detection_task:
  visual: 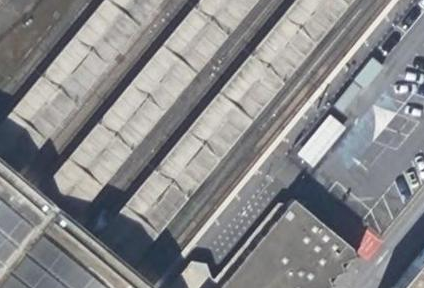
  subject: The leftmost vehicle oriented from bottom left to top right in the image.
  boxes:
[382,32,402,52]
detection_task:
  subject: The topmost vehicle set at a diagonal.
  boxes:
[402,5,422,28]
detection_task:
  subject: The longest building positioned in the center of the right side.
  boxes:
[298,116,346,168]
